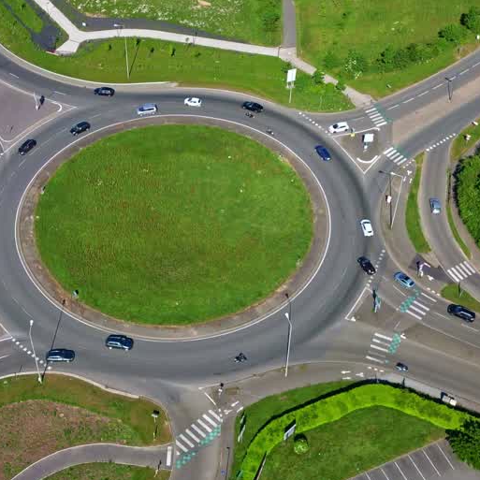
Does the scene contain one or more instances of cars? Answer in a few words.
Yes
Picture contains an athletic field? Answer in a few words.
No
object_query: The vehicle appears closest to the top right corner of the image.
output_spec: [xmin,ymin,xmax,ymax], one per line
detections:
[330,121,352,133]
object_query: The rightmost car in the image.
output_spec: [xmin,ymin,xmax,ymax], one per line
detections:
[446,304,475,323]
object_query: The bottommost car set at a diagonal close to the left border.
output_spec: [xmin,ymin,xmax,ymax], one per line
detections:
[18,139,39,156]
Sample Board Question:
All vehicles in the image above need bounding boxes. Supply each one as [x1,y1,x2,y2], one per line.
[241,101,263,112]
[70,119,92,135]
[46,348,75,363]
[330,121,352,133]
[18,139,39,156]
[393,361,411,373]
[94,87,114,96]
[446,304,475,323]
[136,103,158,116]
[356,255,376,276]
[393,272,417,289]
[105,336,132,350]
[315,145,331,160]
[359,219,373,238]
[430,198,441,214]
[183,96,201,107]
